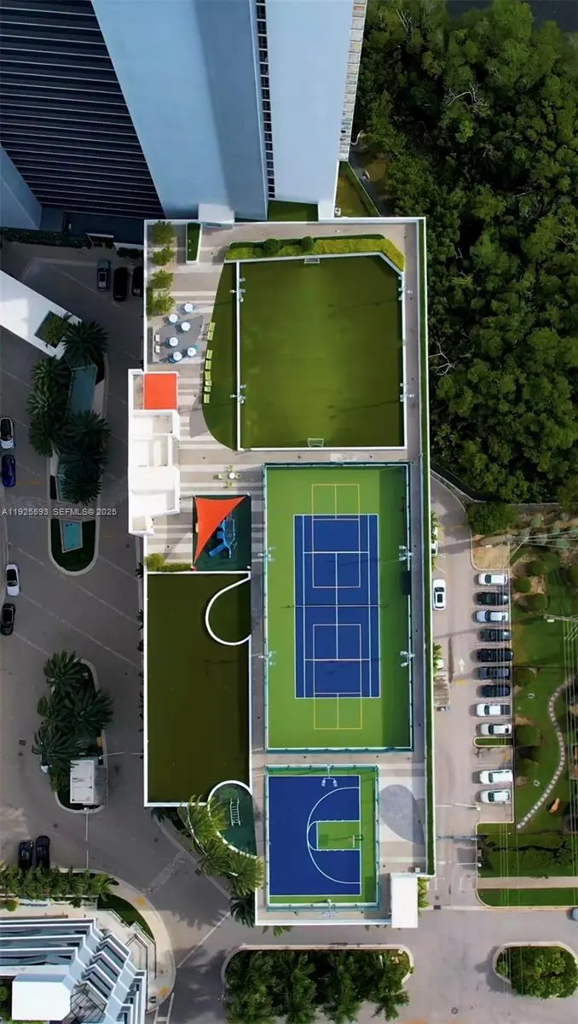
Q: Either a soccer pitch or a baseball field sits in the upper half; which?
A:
soccer pitch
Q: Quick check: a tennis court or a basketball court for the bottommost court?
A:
basketball court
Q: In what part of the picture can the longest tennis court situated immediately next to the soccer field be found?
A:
center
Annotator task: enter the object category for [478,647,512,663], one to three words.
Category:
car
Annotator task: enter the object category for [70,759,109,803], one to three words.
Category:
building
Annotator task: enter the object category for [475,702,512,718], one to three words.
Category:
vehicle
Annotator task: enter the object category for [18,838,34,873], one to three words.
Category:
car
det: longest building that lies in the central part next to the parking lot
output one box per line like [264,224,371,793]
[142,216,437,929]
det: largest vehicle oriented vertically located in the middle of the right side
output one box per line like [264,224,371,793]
[432,578,447,611]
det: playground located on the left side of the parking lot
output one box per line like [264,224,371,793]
[208,513,237,557]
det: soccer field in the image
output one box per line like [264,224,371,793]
[237,252,406,451]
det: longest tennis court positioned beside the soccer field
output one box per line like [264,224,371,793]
[267,466,411,747]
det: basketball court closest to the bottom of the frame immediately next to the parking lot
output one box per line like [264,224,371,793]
[268,768,376,903]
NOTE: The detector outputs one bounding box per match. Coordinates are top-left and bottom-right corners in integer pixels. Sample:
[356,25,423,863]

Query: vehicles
[478,722,512,738]
[34,835,51,870]
[478,665,510,681]
[479,627,512,643]
[479,788,513,805]
[476,591,510,606]
[0,603,15,636]
[479,683,512,699]
[131,266,142,298]
[112,268,128,301]
[479,769,514,786]
[96,259,112,292]
[5,563,21,597]
[0,417,15,450]
[476,571,509,587]
[475,702,512,718]
[0,454,16,487]
[476,608,509,624]
[18,838,34,873]
[432,578,447,611]
[478,647,512,663]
